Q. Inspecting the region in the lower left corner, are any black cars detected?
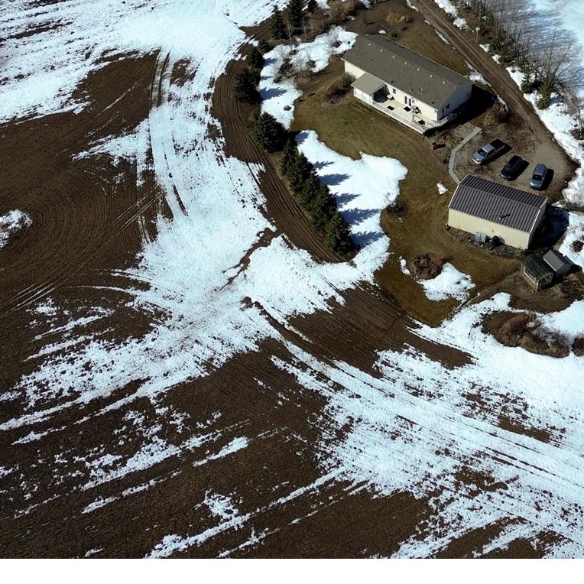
No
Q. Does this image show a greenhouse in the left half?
No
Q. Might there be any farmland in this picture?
Yes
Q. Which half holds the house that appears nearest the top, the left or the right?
right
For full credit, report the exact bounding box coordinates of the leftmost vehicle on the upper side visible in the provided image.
[469,136,510,166]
